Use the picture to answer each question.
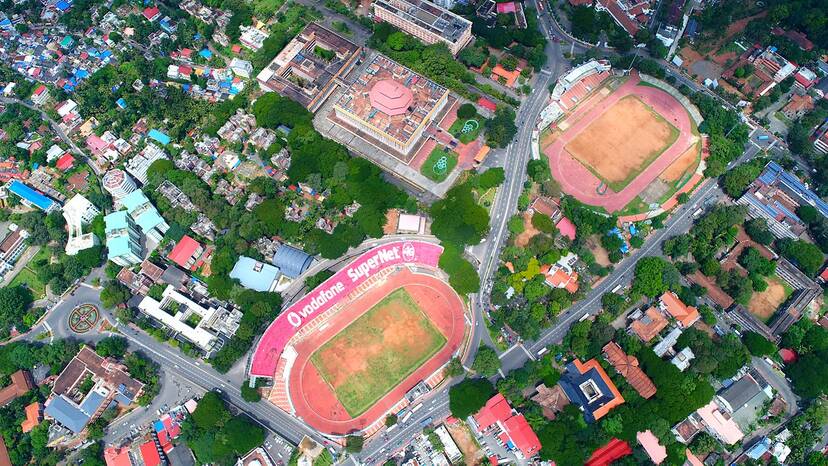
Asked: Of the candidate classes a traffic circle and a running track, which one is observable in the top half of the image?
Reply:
running track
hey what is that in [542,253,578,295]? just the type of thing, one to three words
house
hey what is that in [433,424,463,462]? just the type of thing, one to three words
building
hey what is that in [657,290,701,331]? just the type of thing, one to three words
house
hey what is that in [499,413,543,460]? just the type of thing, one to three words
building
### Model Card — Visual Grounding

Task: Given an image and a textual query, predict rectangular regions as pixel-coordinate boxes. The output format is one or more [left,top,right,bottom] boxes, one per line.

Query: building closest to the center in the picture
[396,213,425,239]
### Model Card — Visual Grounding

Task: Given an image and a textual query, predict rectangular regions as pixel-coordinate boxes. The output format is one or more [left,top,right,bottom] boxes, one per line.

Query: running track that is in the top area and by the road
[546,74,692,209]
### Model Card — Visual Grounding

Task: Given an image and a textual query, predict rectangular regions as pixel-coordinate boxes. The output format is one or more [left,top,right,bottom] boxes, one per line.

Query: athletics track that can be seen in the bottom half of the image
[288,273,469,438]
